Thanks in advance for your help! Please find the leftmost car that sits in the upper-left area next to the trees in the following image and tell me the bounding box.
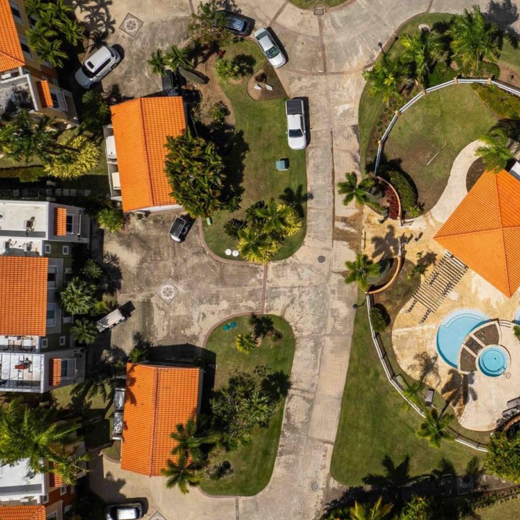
[78,47,121,88]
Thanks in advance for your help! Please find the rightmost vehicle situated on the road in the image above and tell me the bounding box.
[254,28,287,70]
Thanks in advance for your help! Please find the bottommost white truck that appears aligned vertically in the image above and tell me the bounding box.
[286,99,308,150]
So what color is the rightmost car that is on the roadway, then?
white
